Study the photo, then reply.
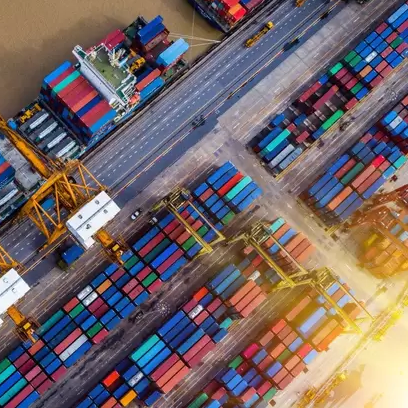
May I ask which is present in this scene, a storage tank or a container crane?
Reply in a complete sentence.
There is a container crane in the scene.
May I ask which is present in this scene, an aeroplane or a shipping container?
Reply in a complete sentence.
Visible in the photo is a shipping container.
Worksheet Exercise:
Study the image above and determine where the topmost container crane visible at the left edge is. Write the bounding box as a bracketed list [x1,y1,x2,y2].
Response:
[0,122,128,270]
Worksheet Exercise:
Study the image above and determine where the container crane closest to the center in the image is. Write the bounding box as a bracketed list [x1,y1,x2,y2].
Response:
[149,184,226,262]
